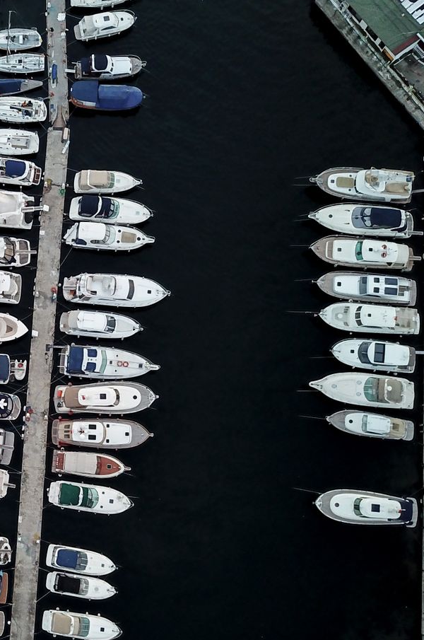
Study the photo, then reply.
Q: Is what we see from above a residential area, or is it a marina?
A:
marina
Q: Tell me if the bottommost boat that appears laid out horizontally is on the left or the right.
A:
left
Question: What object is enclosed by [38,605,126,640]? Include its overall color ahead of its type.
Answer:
white boat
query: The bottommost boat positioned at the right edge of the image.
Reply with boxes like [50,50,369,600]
[297,489,422,536]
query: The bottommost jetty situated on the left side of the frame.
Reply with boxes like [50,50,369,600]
[9,129,71,640]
